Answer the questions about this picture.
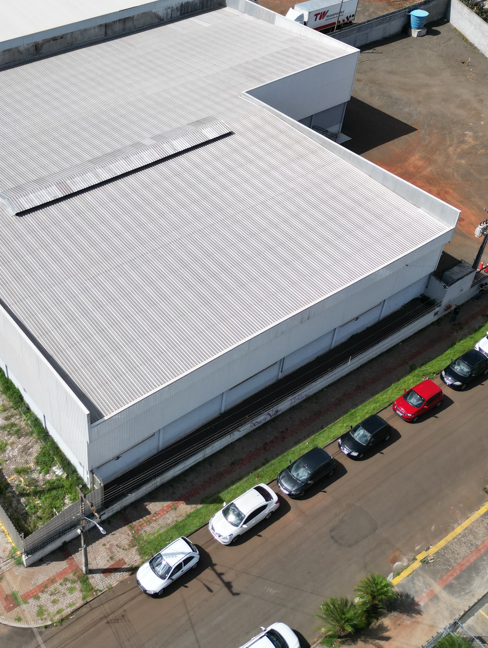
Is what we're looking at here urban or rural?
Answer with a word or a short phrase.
urban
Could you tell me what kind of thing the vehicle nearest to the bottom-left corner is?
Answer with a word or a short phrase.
car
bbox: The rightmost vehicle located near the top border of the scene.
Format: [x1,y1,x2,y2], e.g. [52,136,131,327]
[288,0,359,30]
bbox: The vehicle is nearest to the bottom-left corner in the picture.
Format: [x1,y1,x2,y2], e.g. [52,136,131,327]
[133,533,203,593]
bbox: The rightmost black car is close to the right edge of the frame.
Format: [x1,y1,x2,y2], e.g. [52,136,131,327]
[440,349,488,392]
